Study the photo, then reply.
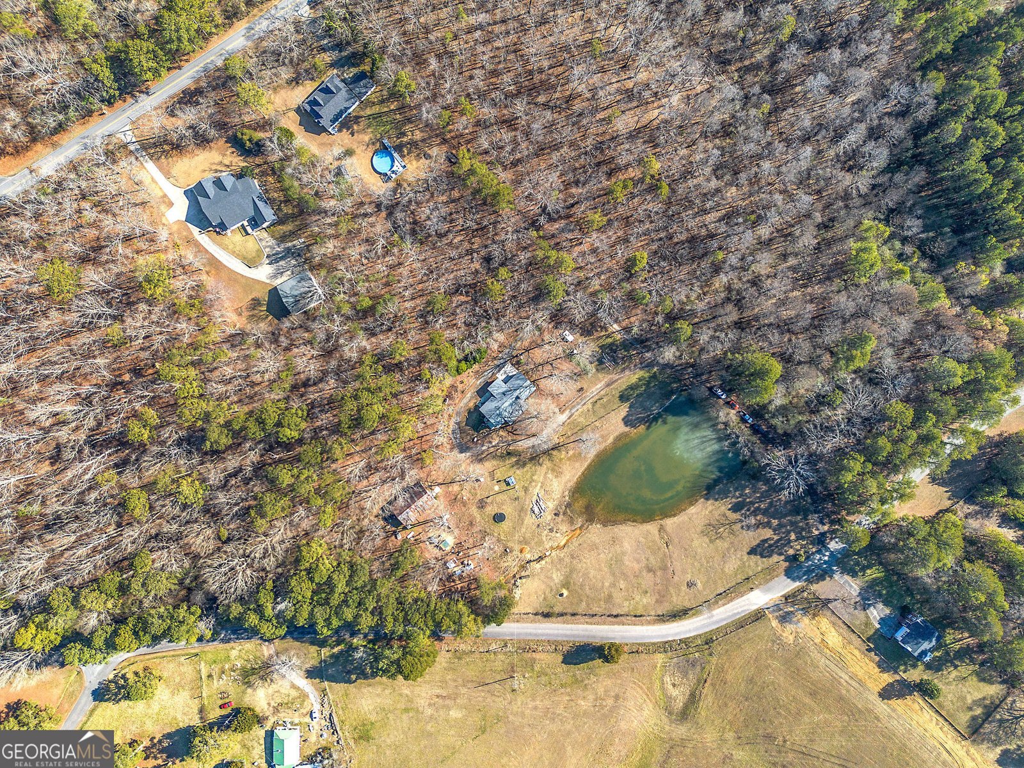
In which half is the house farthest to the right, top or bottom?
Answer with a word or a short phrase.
bottom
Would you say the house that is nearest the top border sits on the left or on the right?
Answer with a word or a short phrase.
left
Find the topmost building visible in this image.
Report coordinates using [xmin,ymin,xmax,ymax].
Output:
[296,71,375,138]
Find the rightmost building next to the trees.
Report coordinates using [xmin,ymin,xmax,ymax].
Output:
[894,609,942,662]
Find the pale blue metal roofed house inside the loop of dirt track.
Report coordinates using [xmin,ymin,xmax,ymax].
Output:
[478,362,536,428]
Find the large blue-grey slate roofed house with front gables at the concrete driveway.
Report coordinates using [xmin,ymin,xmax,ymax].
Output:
[191,172,276,234]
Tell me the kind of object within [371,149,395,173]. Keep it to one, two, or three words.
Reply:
swimming pool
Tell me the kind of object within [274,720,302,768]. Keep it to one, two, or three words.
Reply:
house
